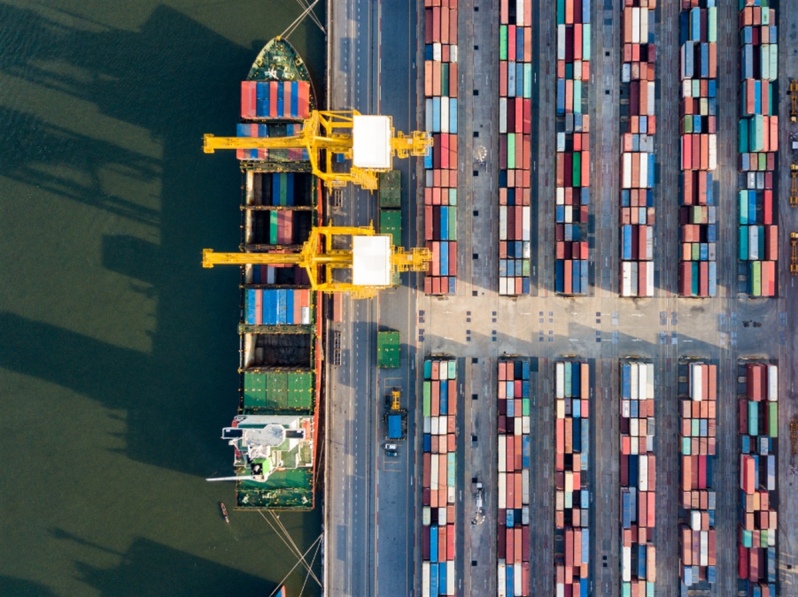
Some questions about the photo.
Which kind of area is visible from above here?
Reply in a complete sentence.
What you see here is a port.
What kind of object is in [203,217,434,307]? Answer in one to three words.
container crane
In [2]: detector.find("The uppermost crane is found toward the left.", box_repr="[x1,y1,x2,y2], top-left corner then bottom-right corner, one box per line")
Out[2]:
[203,108,434,198]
